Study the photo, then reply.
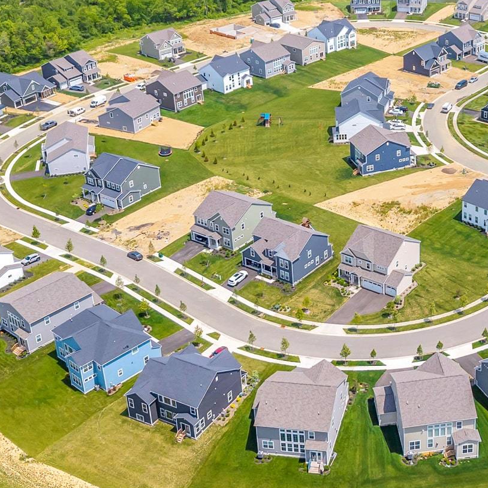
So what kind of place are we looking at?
residential area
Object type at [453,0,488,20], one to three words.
house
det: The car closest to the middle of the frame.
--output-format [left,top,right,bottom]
[229,266,246,282]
